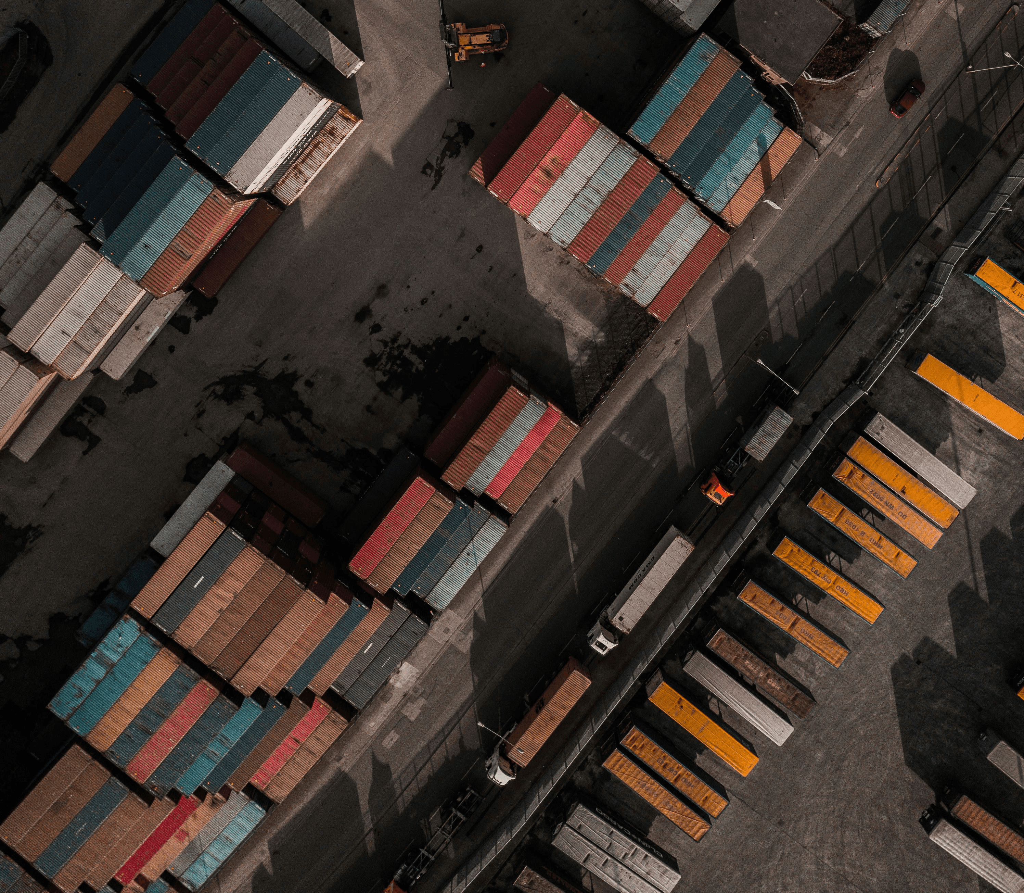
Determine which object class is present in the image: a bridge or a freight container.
freight container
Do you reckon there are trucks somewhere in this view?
Yes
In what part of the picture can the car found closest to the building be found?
top right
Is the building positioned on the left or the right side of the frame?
right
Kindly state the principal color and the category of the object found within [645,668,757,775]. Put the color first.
orange trailer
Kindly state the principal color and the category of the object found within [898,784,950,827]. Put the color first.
black truck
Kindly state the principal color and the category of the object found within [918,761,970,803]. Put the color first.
black truck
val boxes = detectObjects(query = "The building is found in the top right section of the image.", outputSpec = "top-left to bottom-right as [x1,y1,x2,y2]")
[719,0,843,86]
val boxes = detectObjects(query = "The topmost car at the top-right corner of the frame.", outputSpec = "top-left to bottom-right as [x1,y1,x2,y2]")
[890,78,927,121]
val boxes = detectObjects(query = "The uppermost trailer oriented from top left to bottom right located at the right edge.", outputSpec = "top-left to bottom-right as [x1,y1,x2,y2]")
[961,255,1024,319]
